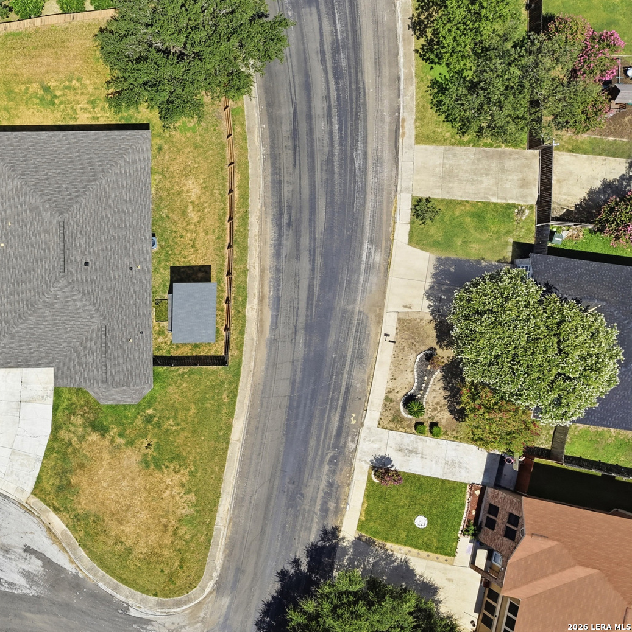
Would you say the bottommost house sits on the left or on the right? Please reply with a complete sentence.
The bottommost house is on the right side of the image.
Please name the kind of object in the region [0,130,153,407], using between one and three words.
house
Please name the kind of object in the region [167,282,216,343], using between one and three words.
shed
